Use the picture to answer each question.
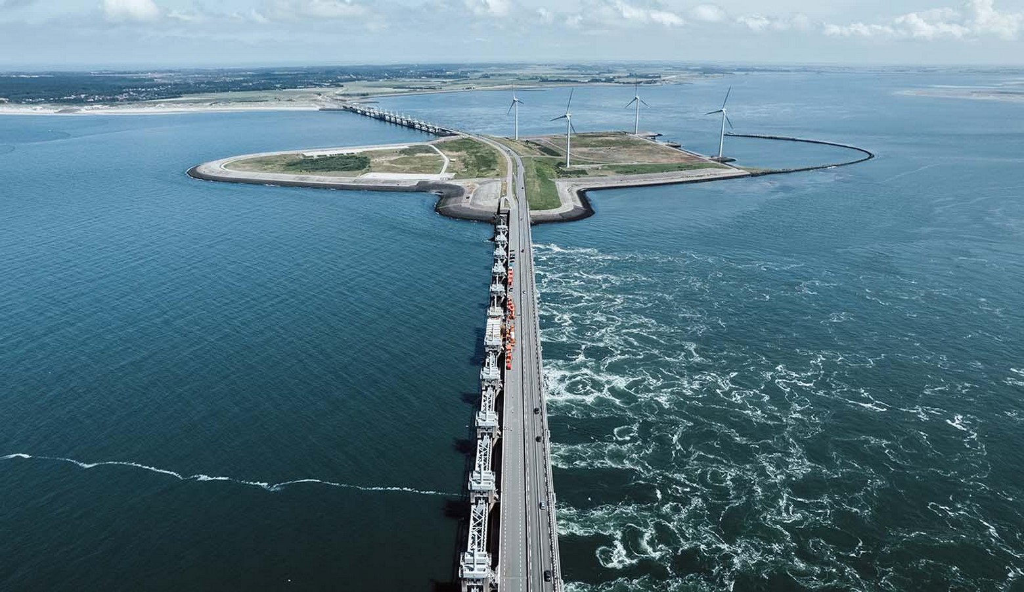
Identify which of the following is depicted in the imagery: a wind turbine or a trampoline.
wind turbine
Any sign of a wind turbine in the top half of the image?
Yes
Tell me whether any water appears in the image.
Yes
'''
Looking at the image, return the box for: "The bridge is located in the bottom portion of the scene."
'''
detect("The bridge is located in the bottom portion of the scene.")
[498,204,562,592]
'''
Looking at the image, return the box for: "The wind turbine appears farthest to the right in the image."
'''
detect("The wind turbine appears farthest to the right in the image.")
[704,88,733,159]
